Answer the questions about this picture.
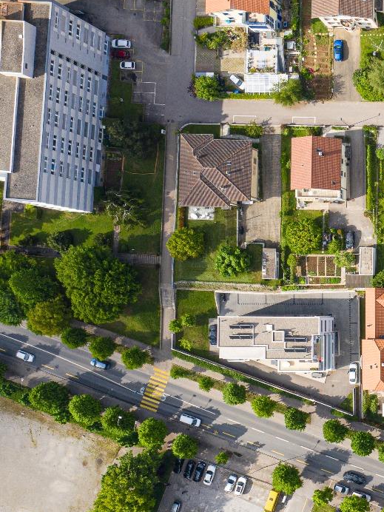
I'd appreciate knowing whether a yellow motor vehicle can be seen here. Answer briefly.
Yes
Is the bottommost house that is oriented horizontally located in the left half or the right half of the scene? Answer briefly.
right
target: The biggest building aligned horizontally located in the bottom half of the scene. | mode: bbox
[217,316,342,371]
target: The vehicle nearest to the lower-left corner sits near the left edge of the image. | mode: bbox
[14,348,38,363]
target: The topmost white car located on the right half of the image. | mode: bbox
[228,73,244,90]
